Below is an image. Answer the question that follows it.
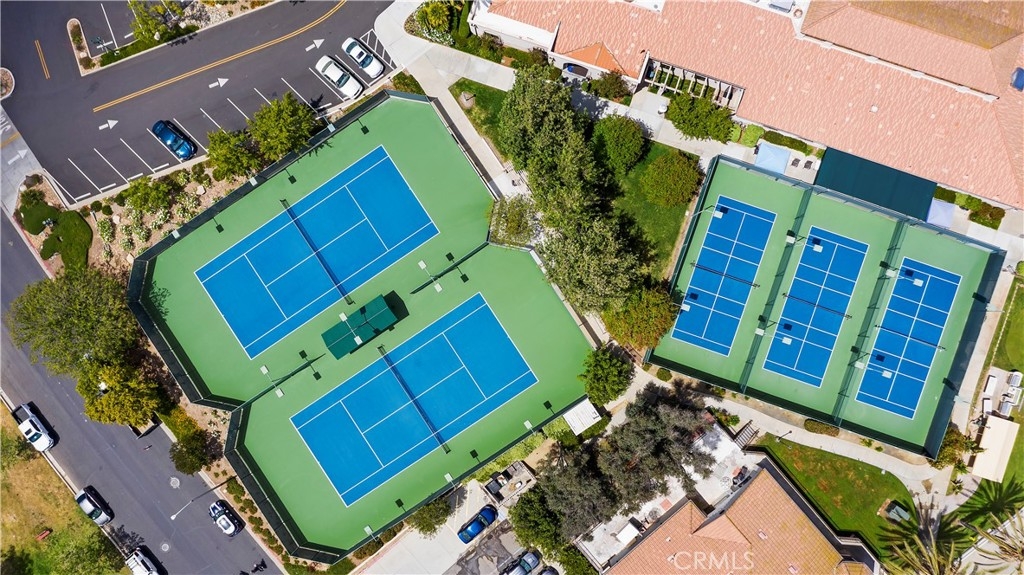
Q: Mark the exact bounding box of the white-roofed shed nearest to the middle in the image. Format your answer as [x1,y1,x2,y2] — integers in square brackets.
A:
[563,398,601,436]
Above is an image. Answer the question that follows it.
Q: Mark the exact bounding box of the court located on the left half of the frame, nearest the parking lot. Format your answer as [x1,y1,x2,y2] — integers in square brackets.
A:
[144,99,495,406]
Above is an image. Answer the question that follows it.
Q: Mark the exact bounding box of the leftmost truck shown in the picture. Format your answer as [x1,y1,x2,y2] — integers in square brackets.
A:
[9,400,56,453]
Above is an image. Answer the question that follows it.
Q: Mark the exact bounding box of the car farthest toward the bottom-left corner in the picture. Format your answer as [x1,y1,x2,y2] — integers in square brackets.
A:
[75,486,114,526]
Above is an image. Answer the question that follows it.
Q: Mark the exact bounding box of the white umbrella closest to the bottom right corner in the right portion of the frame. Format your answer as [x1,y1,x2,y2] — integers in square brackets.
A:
[616,522,640,545]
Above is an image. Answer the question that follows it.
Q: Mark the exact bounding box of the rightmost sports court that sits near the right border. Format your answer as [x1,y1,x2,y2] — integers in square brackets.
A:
[821,223,984,451]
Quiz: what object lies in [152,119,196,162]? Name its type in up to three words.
car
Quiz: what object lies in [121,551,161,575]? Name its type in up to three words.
vehicle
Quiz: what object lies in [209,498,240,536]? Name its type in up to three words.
car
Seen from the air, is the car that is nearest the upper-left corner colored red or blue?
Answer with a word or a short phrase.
blue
